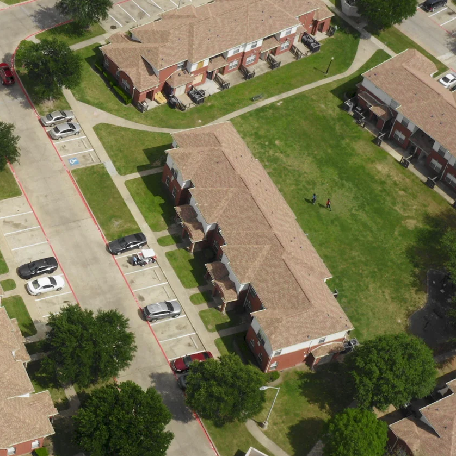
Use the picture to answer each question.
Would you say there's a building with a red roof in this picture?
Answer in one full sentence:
No, no building with a red roof is visible in the view.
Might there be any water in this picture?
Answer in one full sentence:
No, the picture contains no water.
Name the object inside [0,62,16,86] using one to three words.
car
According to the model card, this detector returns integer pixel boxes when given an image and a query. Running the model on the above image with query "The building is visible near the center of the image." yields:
[164,120,354,371]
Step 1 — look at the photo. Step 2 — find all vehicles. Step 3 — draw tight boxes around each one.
[108,234,148,256]
[439,72,456,86]
[143,300,182,321]
[17,258,58,281]
[171,350,212,373]
[418,0,451,12]
[137,247,158,265]
[0,62,16,86]
[27,275,65,297]
[41,108,75,126]
[48,121,83,140]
